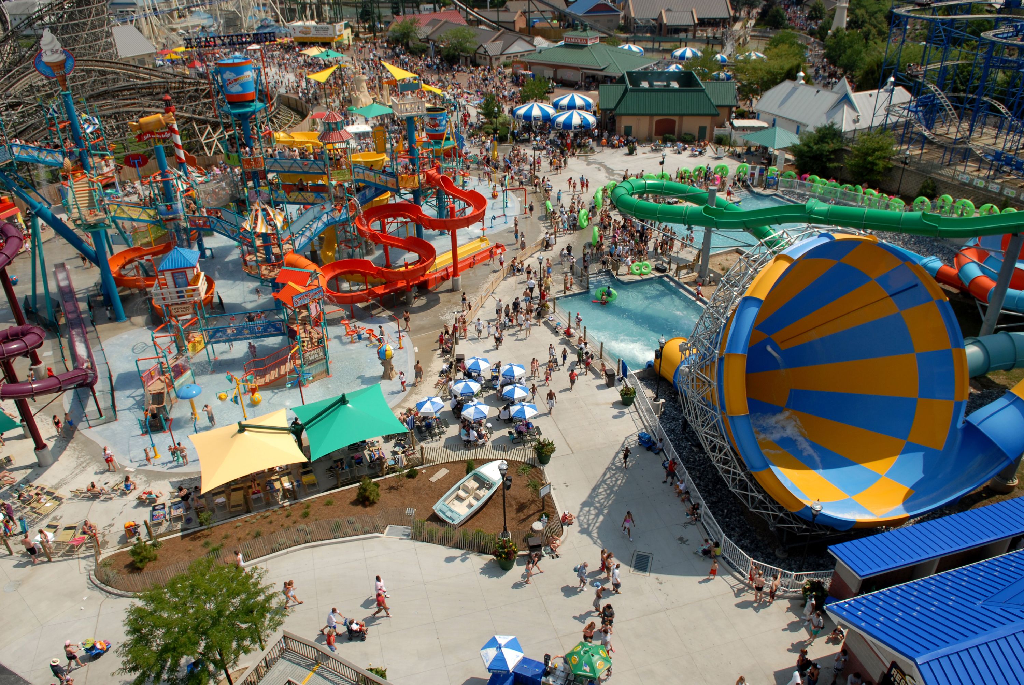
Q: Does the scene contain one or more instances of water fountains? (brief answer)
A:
Yes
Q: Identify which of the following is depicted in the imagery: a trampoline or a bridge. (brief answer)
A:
bridge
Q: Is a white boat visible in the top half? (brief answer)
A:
No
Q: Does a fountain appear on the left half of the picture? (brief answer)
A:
Yes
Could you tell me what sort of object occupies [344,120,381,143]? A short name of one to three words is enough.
building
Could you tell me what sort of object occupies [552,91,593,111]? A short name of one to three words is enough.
umbrella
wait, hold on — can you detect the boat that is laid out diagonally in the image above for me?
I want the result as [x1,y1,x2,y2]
[432,462,509,524]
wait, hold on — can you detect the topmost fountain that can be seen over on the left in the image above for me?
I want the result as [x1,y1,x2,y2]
[366,336,398,384]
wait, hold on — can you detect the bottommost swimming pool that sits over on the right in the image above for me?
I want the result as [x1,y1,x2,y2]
[560,273,724,368]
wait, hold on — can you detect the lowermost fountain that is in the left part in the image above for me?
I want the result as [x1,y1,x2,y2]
[175,385,204,422]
